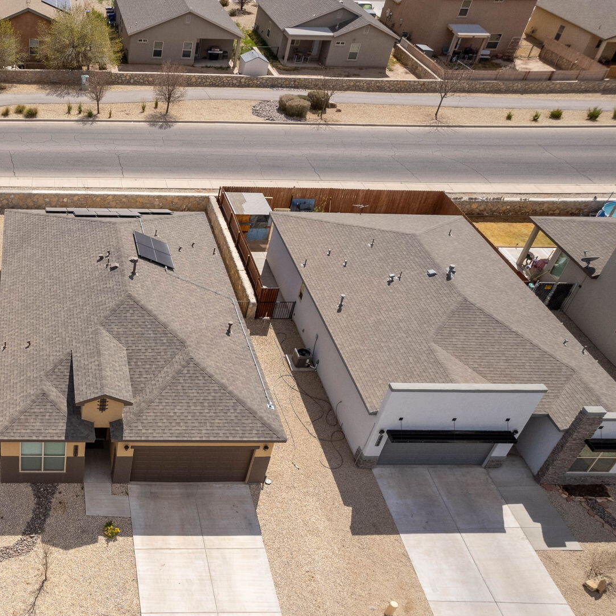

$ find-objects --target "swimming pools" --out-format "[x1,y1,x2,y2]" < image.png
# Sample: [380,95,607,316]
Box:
[594,202,616,216]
